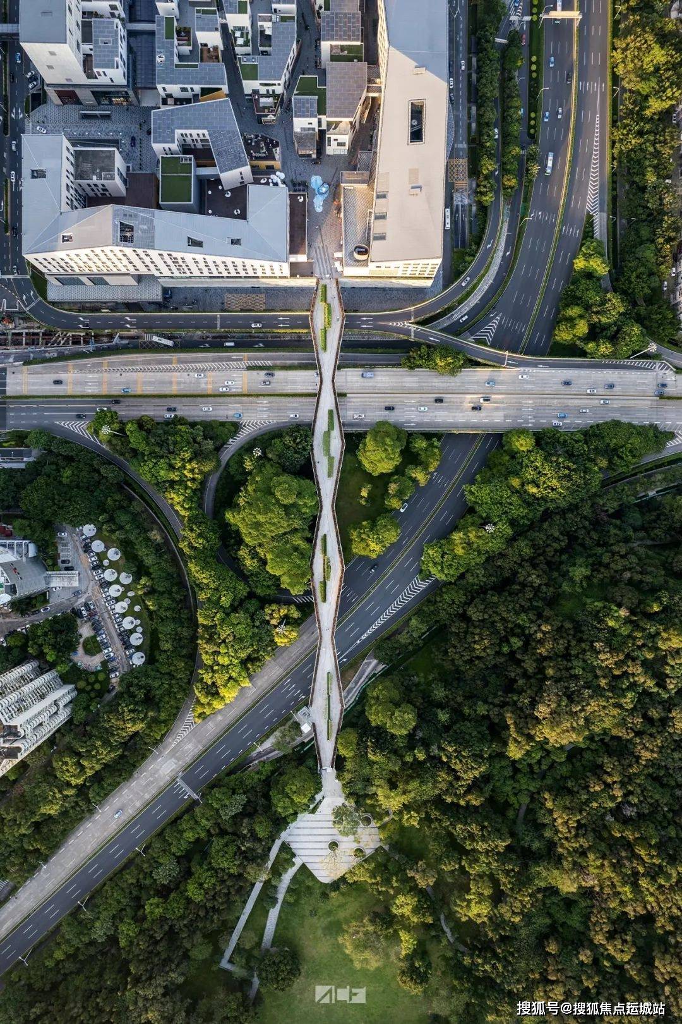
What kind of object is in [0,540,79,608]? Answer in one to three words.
building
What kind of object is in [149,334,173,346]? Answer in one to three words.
vehicle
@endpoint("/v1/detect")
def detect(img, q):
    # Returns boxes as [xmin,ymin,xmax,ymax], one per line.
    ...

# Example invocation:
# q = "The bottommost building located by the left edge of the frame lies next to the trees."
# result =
[0,657,77,759]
